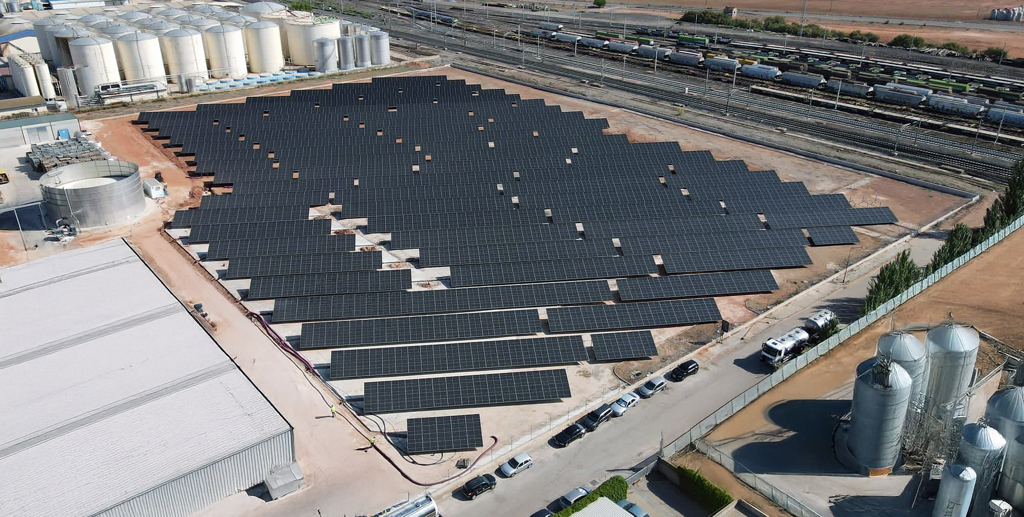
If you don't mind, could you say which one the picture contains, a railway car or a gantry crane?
railway car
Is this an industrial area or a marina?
industrial area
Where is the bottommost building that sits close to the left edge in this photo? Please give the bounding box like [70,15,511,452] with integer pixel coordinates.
[0,237,297,517]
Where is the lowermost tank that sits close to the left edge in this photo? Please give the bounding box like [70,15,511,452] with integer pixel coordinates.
[34,167,149,231]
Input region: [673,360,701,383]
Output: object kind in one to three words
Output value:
car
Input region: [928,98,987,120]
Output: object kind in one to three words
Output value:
rail car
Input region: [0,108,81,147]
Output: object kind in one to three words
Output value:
building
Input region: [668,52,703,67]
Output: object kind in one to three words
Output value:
rail car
